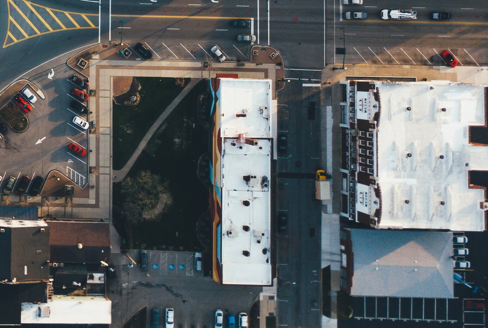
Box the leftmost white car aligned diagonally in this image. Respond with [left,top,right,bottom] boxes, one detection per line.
[19,85,38,105]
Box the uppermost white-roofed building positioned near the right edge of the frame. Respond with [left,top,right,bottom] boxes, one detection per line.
[341,75,488,232]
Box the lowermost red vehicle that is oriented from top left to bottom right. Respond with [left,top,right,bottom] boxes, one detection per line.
[66,141,89,158]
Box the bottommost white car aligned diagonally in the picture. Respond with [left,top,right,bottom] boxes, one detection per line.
[70,114,92,132]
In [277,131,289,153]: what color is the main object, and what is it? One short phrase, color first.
black vehicle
